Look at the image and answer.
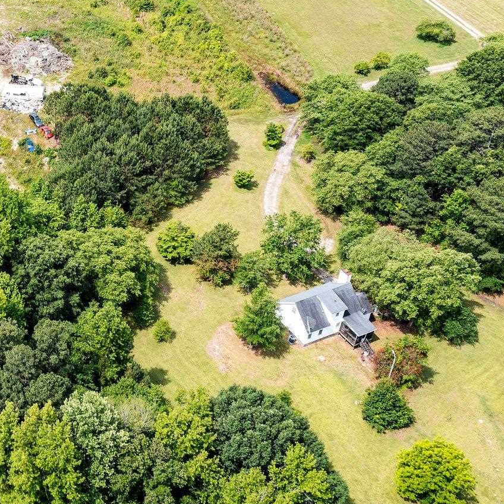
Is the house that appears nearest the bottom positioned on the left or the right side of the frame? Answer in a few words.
right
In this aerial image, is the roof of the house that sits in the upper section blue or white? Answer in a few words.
white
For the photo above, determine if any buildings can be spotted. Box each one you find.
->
[270,253,389,349]
[2,80,46,107]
